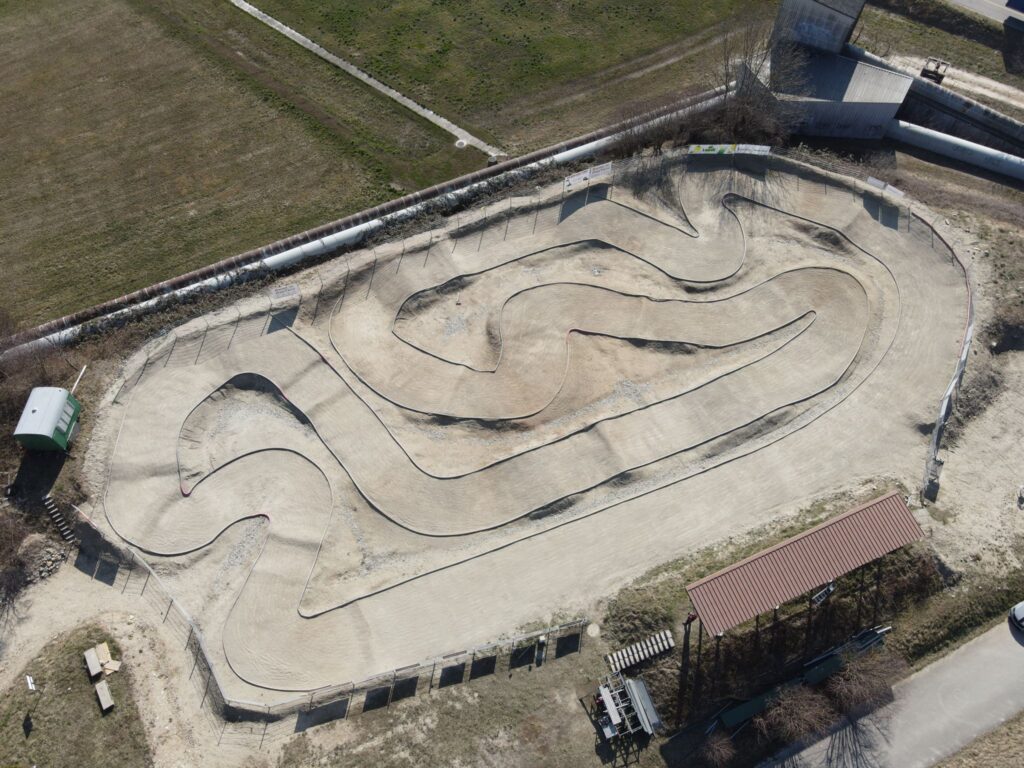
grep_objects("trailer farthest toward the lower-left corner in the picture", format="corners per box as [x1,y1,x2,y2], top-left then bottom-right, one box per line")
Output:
[14,361,88,450]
